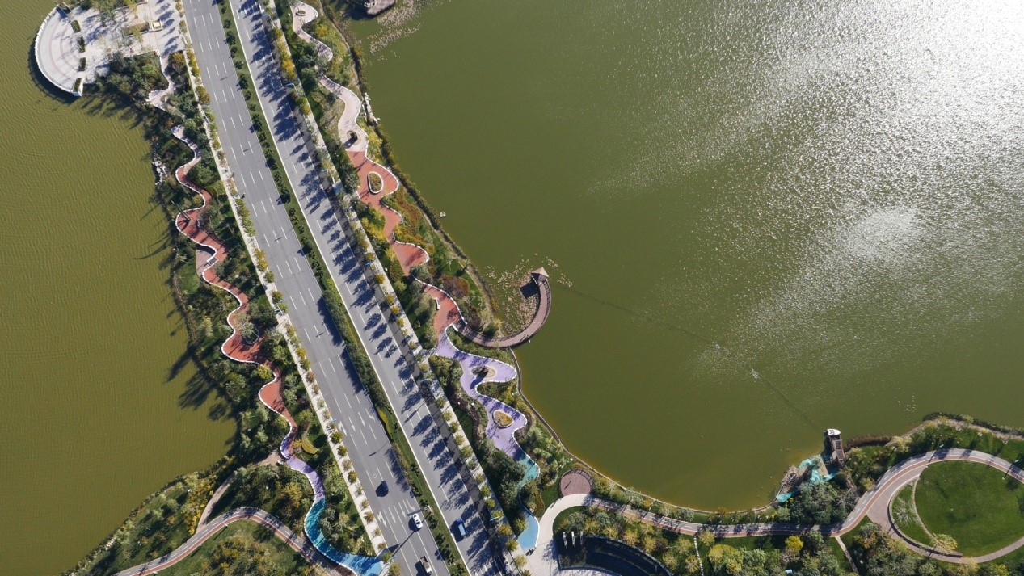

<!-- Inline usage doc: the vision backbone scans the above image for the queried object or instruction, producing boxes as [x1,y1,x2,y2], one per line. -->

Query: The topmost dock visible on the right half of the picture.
[827,434,846,463]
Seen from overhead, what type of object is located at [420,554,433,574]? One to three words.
vehicle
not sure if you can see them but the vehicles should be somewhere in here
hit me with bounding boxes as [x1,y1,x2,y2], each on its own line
[379,478,390,493]
[420,554,433,574]
[455,518,467,536]
[413,514,423,529]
